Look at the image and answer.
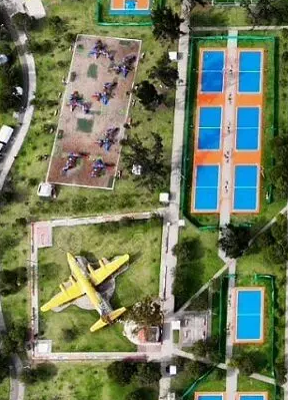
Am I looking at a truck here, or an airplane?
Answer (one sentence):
Of the two, only an airplane appears.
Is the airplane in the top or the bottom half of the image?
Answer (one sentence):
The bottom half of the photo is where the airplane is.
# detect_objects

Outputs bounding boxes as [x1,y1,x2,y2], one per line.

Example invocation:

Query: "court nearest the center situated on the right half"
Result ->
[190,157,226,213]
